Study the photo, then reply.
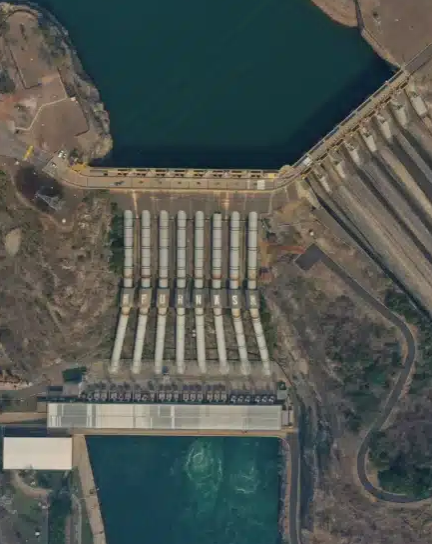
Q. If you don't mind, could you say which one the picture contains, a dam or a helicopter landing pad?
dam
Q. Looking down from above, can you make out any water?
Yes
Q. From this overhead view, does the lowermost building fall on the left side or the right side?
left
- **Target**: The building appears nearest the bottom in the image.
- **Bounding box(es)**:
[3,435,74,470]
